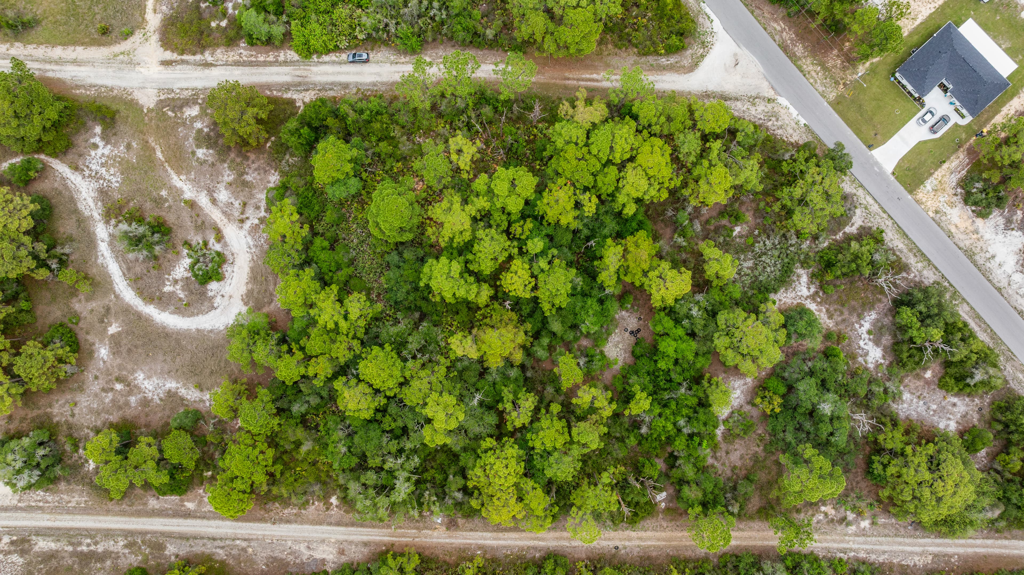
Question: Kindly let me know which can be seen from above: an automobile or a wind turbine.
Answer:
automobile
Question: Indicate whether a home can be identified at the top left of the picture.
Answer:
No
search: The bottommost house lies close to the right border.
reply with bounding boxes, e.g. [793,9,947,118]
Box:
[896,20,1012,120]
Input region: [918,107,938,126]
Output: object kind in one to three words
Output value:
car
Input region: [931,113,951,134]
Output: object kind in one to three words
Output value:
car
